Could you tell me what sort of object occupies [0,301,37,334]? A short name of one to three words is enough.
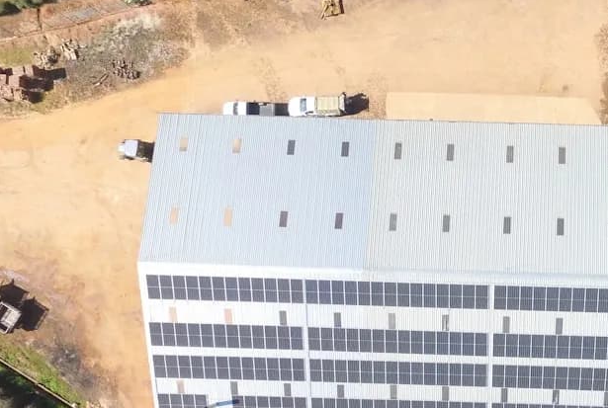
trailer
